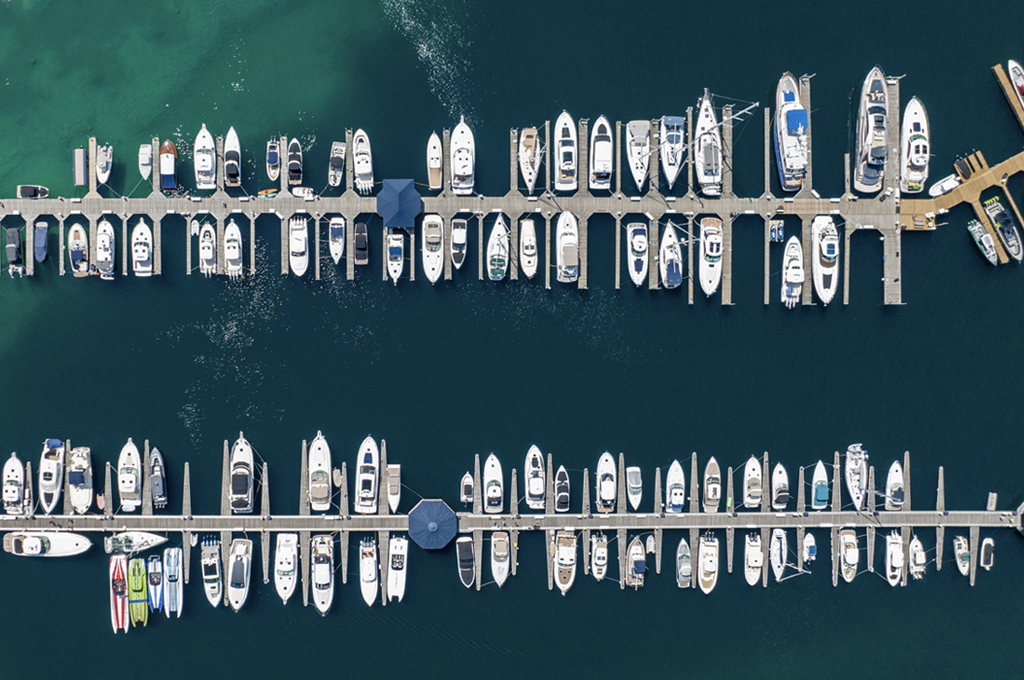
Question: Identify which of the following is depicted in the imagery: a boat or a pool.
boat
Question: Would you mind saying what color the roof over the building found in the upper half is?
blue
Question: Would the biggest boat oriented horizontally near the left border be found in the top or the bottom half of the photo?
bottom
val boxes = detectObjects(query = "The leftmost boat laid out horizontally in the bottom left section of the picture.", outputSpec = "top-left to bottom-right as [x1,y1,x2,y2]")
[5,530,91,556]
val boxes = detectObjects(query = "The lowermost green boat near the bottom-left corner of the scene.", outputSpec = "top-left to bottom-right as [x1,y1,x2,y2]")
[129,557,149,627]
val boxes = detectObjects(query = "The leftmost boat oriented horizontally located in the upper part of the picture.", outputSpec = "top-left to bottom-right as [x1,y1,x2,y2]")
[18,185,49,198]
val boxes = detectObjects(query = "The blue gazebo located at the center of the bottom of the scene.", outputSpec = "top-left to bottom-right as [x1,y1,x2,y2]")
[406,500,457,551]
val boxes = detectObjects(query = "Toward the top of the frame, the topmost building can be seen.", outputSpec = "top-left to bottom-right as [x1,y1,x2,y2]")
[374,178,424,229]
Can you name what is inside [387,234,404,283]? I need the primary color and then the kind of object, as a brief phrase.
white boat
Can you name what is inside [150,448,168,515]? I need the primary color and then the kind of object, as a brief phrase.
gray boat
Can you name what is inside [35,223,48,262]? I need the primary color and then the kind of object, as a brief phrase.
blue boat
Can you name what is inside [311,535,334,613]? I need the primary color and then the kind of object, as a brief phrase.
white boat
